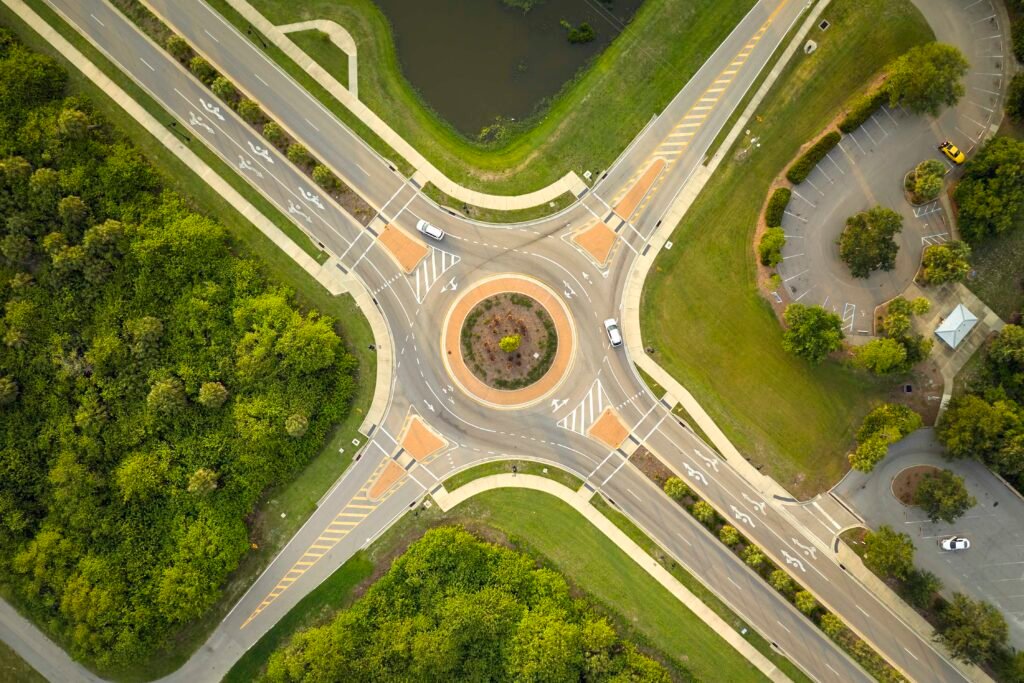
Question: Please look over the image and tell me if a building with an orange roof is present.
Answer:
No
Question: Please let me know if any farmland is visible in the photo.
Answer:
No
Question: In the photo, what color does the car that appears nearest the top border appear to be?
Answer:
yellow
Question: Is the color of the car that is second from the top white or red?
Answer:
white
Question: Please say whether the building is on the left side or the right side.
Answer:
right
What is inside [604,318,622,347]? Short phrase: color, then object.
white car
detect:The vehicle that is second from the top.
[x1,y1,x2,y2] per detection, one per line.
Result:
[416,220,445,240]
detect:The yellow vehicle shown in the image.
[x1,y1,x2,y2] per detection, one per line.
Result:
[937,141,966,165]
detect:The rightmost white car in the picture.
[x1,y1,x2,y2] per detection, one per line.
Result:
[940,533,970,551]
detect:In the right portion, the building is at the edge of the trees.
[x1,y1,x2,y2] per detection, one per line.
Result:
[928,304,978,348]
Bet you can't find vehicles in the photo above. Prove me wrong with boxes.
[416,220,445,240]
[604,318,622,347]
[937,141,966,165]
[940,533,970,551]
